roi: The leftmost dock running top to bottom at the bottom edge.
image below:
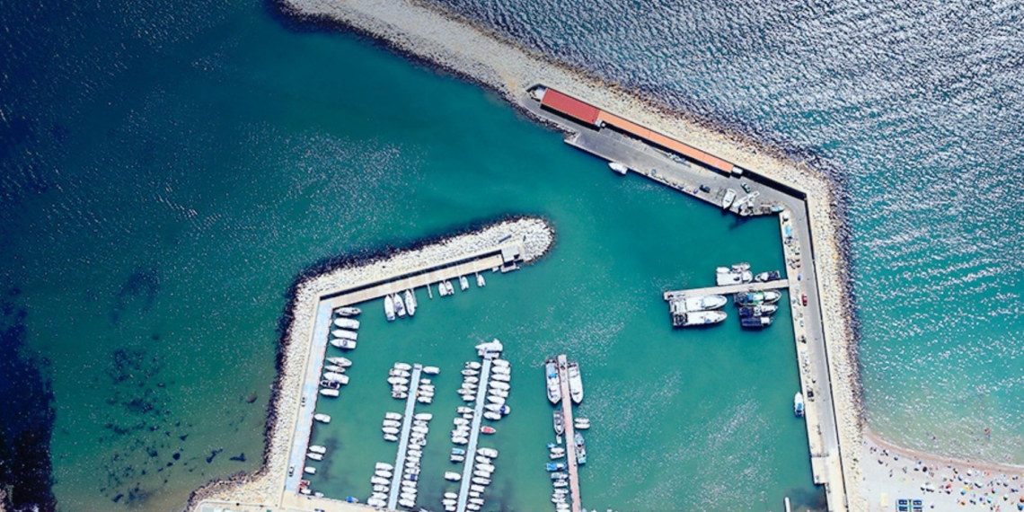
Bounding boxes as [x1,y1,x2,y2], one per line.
[388,369,420,512]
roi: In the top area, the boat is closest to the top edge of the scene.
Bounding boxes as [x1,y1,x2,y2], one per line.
[609,163,628,175]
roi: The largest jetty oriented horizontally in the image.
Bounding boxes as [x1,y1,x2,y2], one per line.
[664,279,789,300]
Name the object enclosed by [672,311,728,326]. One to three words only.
boat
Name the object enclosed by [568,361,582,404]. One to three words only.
boat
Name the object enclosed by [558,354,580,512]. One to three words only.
pier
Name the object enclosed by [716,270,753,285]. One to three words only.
ship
